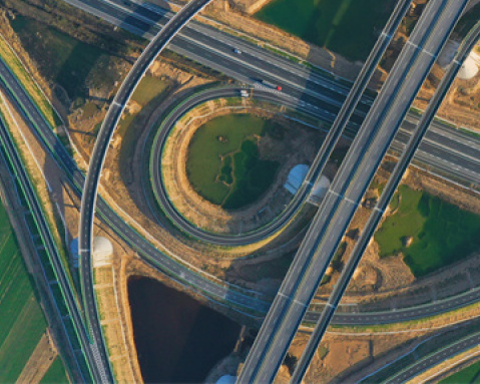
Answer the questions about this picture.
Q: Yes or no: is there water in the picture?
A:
Yes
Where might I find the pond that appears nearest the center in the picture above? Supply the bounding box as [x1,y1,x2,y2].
[188,115,279,208]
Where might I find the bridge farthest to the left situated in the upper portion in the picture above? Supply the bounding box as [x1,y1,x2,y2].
[78,0,213,249]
